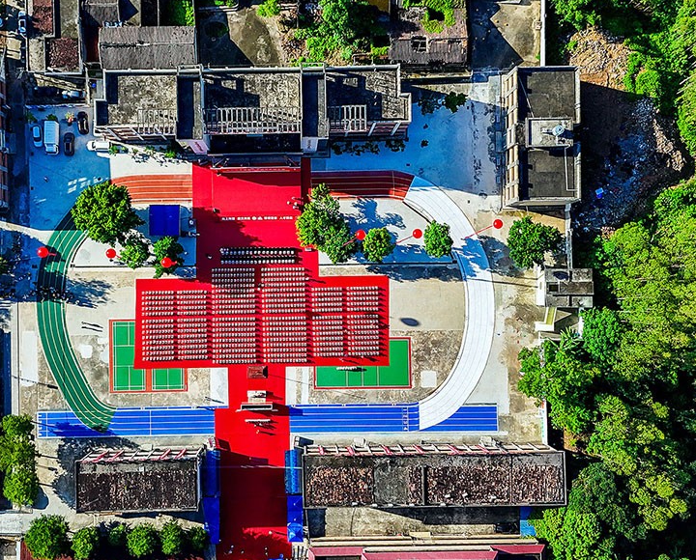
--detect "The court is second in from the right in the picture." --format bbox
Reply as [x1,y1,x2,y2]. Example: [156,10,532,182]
[149,368,188,392]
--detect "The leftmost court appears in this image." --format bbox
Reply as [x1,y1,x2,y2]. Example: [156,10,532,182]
[109,319,149,392]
